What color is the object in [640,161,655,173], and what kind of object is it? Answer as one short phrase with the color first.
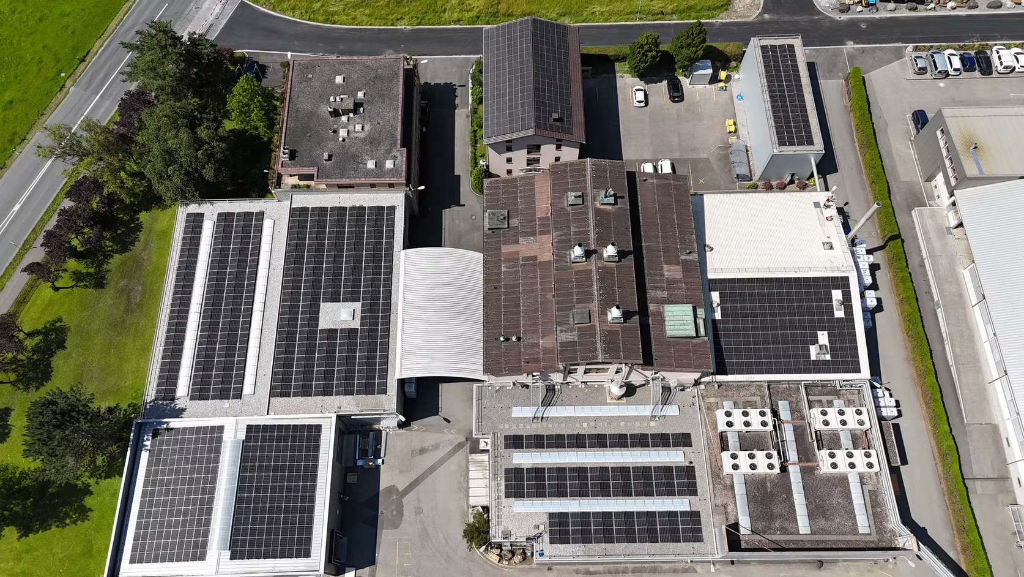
white vehicle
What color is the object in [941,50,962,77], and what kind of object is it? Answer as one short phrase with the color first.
white car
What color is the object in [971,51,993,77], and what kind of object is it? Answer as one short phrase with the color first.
black car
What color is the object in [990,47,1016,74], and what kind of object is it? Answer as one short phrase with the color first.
white car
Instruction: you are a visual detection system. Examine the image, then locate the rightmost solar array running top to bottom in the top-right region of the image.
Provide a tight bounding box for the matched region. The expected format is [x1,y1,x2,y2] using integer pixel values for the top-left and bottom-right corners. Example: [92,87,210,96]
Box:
[761,43,814,146]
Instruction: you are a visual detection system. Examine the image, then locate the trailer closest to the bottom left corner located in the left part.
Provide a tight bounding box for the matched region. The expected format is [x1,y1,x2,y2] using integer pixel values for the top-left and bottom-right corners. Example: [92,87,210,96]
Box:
[355,431,386,468]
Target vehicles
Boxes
[941,50,962,77]
[666,76,683,104]
[926,50,950,78]
[908,53,928,76]
[657,157,673,173]
[858,0,871,6]
[1010,50,1024,74]
[632,85,646,109]
[245,59,259,82]
[990,47,1016,74]
[957,52,977,75]
[640,161,655,173]
[971,51,993,77]
[908,109,929,135]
